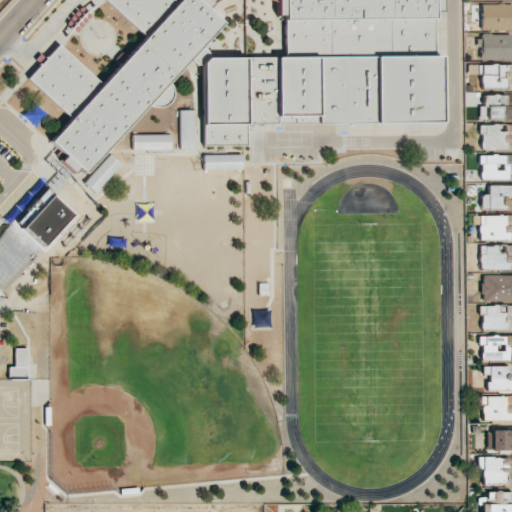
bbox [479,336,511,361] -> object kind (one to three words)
house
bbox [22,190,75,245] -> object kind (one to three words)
building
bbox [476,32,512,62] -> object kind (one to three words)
house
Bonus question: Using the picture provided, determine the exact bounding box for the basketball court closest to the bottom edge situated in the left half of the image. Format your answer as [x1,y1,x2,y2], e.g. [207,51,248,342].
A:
[0,384,31,461]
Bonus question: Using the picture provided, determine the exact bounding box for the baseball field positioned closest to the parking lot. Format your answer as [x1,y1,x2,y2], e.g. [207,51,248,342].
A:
[50,258,283,492]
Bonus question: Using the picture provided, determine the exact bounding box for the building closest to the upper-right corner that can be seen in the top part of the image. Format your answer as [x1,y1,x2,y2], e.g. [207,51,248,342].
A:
[482,3,512,31]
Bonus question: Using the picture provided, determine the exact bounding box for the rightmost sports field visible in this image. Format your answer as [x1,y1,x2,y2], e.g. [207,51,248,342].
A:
[298,177,442,487]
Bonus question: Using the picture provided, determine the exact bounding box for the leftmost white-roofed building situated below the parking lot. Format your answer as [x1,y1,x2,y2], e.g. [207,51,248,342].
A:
[10,346,30,379]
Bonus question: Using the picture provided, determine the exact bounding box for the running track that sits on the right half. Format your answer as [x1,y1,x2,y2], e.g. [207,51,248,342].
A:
[284,164,454,500]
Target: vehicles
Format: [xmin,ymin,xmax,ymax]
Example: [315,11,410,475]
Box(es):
[44,0,52,8]
[26,20,34,28]
[0,148,9,156]
[19,27,28,36]
[6,152,14,160]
